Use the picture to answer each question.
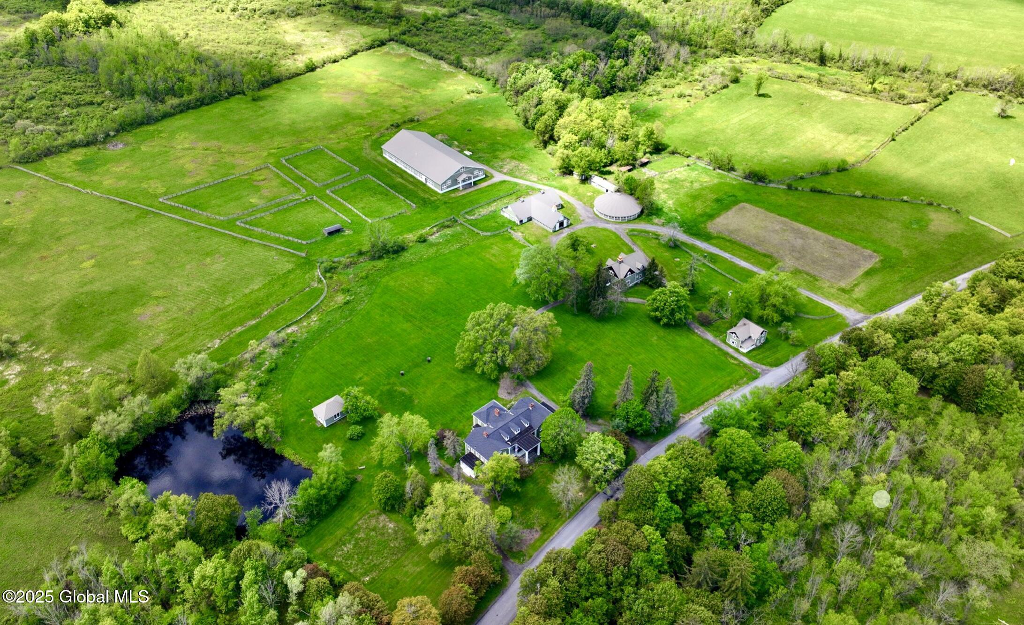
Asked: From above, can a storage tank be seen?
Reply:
No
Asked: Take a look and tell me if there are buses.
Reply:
No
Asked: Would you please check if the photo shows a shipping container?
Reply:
No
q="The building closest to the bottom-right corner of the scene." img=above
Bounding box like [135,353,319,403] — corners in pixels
[726,316,769,352]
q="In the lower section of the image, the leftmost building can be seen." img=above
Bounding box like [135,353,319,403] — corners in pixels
[311,392,347,428]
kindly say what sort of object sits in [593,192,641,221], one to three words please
building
